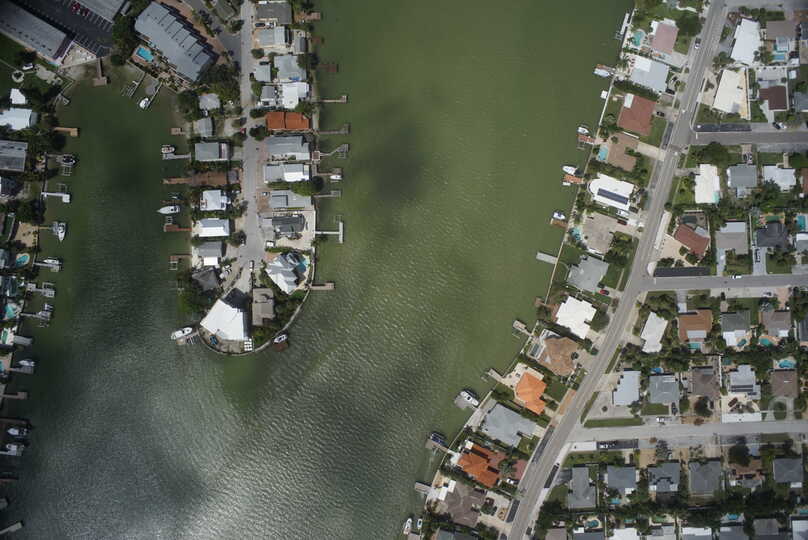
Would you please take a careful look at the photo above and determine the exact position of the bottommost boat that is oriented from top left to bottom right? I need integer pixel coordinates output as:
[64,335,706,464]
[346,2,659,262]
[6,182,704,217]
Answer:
[428,431,446,444]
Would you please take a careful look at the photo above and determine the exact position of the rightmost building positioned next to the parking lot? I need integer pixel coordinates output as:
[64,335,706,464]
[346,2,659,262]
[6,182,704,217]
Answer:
[135,2,213,87]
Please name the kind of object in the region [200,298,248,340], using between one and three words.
house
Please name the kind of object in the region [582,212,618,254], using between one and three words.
house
